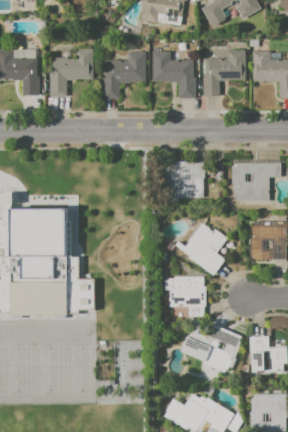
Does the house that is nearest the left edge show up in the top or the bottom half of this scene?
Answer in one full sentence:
The house that is nearest the left edge sits in the top half of the picture.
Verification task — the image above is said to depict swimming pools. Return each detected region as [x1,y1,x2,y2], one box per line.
[124,2,142,26]
[166,220,188,238]
[216,390,238,407]
[14,22,40,34]
[0,0,12,10]
[276,180,288,203]
[170,348,184,374]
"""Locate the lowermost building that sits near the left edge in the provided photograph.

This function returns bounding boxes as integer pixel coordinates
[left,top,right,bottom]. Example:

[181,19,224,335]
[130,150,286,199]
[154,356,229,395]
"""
[0,192,95,318]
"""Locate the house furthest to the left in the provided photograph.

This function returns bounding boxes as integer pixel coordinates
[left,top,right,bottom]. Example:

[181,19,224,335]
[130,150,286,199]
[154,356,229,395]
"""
[0,49,40,95]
